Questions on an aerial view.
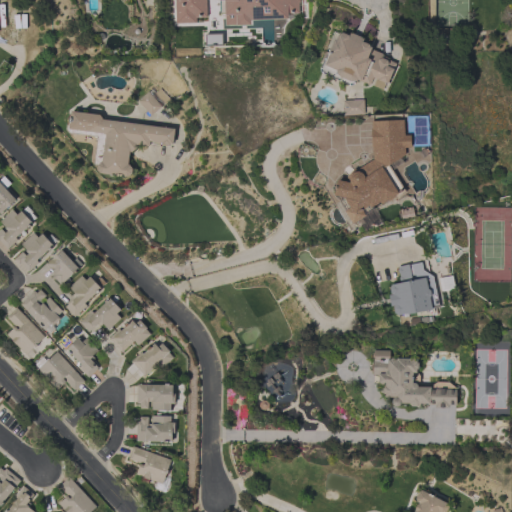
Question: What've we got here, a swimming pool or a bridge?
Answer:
swimming pool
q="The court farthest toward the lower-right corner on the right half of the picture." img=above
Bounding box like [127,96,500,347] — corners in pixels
[476,342,510,414]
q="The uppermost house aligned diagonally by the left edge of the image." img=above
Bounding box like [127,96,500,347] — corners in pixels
[0,206,36,249]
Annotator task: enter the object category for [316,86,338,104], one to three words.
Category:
swimming pool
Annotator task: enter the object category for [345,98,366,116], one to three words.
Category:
house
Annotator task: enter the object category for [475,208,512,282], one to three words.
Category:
tennis court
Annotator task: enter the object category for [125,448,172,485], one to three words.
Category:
house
